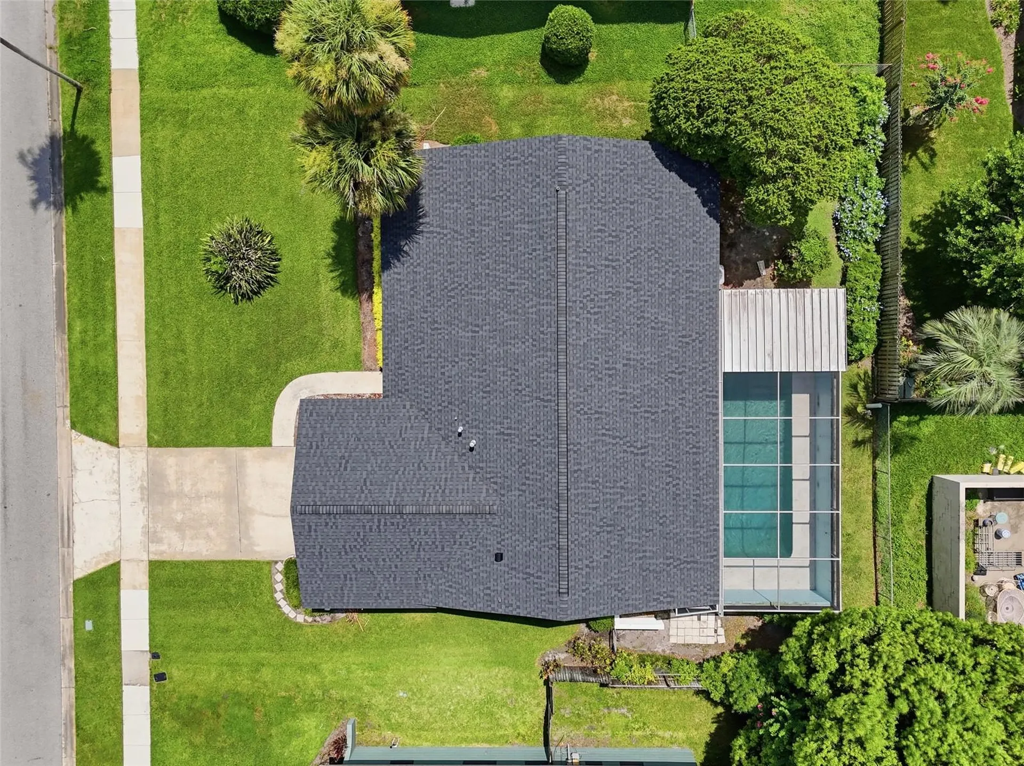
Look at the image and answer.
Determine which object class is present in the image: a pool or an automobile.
pool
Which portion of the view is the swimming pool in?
right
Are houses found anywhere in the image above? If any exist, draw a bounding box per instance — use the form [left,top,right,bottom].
[291,133,721,621]
[320,720,702,766]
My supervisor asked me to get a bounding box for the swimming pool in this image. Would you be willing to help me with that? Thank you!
[722,361,793,558]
